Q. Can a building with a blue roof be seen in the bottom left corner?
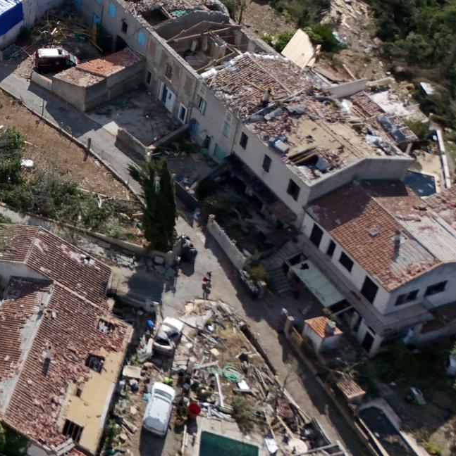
No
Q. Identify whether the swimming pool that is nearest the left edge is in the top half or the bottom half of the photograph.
bottom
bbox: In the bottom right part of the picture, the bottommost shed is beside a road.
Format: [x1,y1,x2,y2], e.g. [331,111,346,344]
[335,377,365,408]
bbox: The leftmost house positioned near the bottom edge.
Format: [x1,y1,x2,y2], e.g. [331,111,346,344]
[0,275,134,456]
